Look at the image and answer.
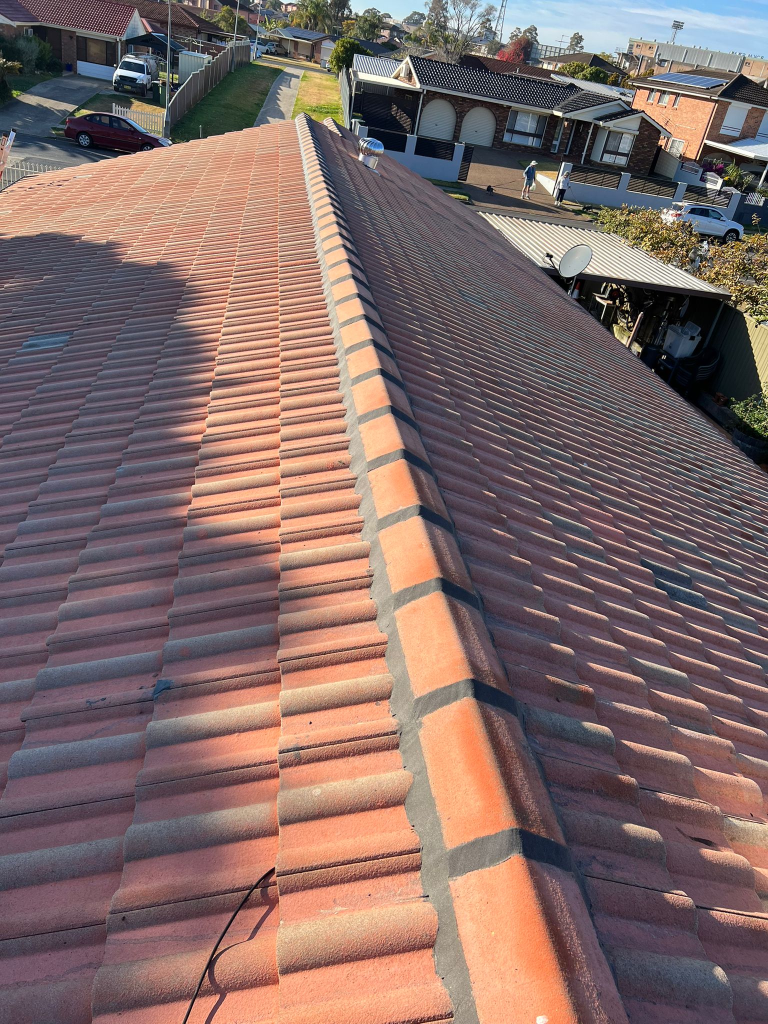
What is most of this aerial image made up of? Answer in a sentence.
What you mostly see from above here is buildings.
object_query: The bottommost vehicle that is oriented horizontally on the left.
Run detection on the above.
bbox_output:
[59,112,174,154]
